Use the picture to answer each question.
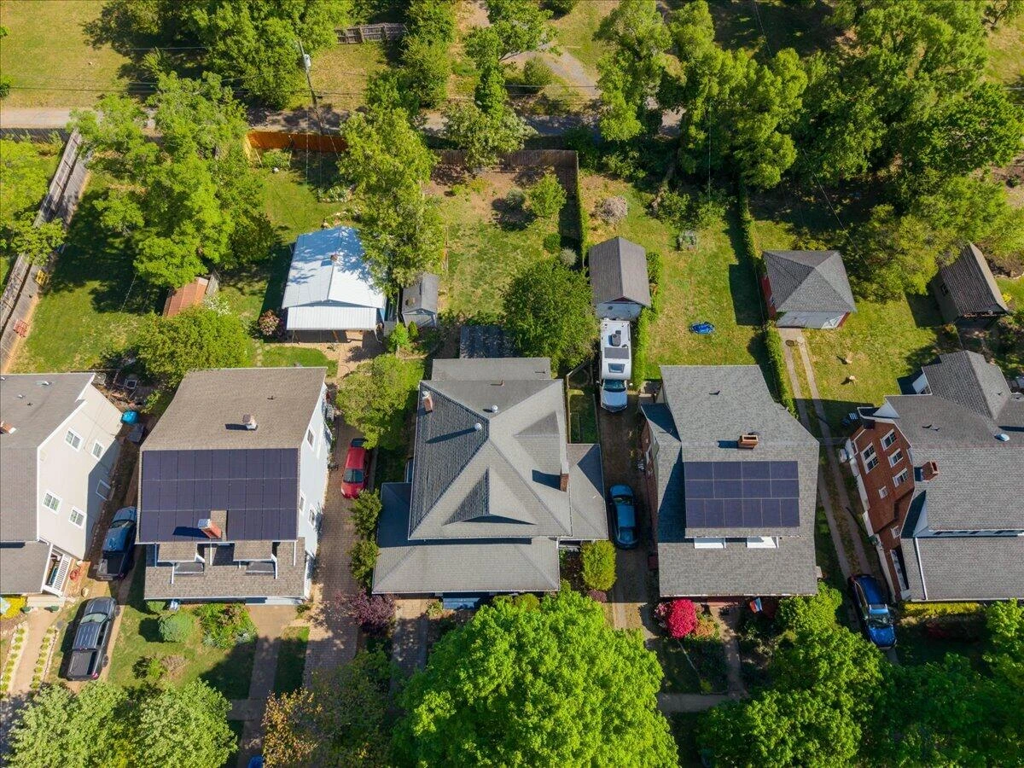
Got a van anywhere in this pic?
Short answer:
Yes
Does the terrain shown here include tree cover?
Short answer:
Yes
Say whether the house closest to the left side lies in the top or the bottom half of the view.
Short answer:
bottom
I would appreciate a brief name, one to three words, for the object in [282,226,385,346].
building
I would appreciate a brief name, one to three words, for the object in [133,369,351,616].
house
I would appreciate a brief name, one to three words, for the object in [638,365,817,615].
house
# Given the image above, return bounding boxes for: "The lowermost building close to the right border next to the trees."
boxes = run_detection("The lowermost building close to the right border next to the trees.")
[842,350,1024,607]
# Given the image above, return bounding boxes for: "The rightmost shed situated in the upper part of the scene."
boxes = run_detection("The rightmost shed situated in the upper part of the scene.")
[923,247,1012,332]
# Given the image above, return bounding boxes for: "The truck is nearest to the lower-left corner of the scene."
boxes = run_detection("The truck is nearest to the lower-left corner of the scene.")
[59,593,126,693]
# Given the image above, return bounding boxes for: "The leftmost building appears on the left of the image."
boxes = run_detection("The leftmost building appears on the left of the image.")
[0,374,122,628]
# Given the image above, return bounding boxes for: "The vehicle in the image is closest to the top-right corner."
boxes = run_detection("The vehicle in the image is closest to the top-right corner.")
[594,321,631,412]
